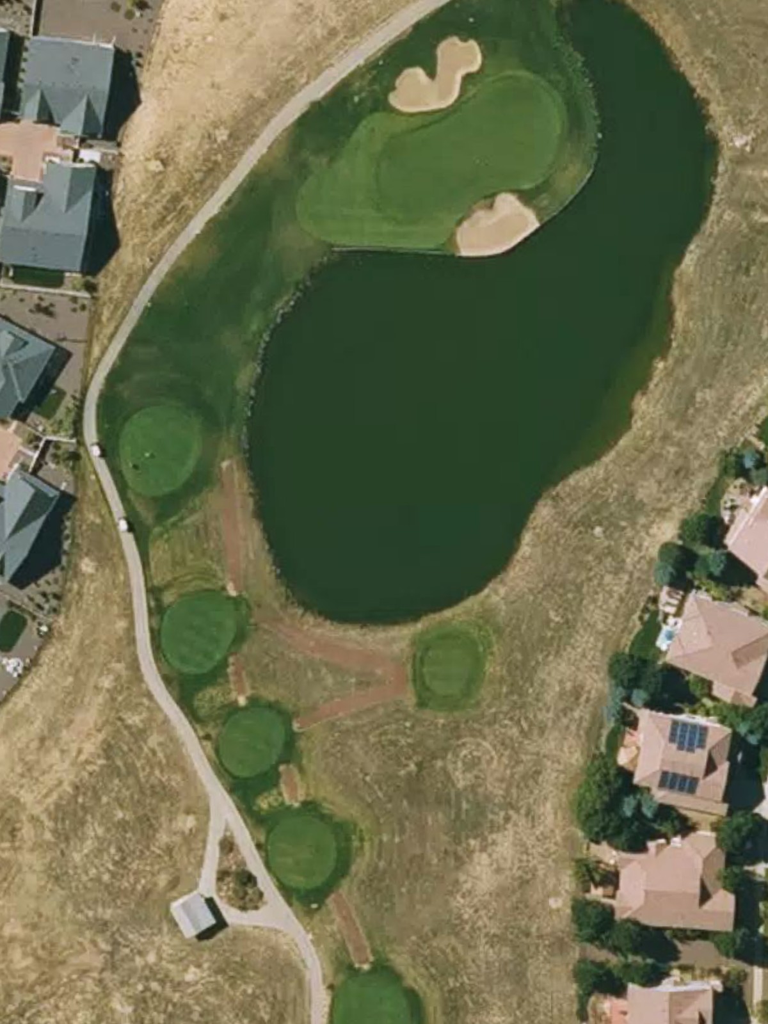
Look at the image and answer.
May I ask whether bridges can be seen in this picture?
No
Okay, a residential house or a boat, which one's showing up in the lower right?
residential house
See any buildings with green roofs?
No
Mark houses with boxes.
[0,29,9,119]
[628,978,712,1024]
[0,464,60,581]
[667,587,768,707]
[633,704,732,816]
[0,316,57,418]
[615,824,735,932]
[0,164,97,273]
[723,476,768,584]
[20,36,114,136]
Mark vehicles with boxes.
[119,518,129,532]
[91,443,101,457]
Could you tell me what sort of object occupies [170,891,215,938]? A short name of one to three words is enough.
building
